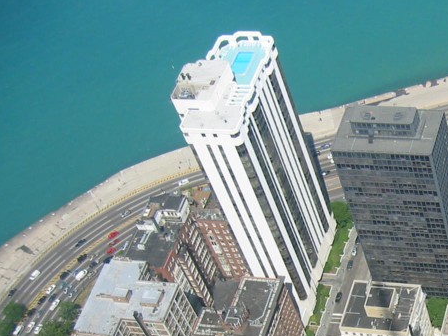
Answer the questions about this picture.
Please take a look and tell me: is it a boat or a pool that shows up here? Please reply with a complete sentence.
The image shows a pool.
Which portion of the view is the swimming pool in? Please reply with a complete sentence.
Look in the top portion of the view to spot the swimming pool.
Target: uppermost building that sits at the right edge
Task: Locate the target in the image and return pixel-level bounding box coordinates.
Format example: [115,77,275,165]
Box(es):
[330,103,448,302]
